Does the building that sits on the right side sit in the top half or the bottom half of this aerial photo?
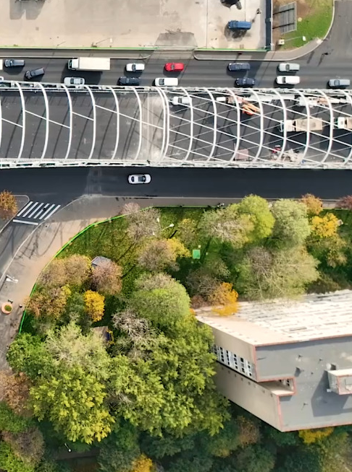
bottom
